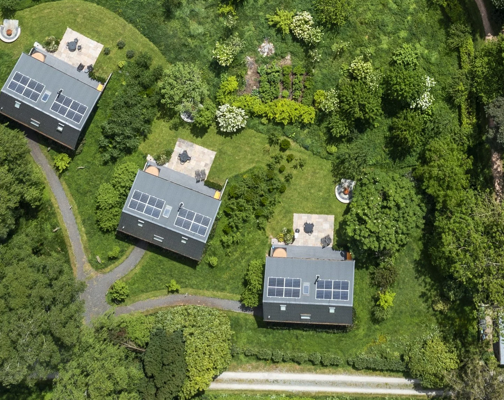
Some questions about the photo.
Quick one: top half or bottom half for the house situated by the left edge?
top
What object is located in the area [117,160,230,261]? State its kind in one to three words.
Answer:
house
